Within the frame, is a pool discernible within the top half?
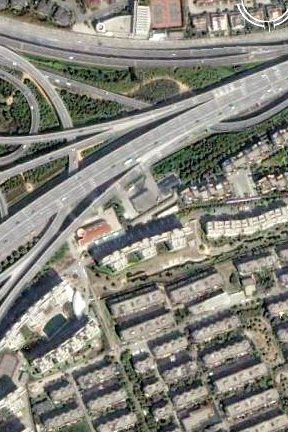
No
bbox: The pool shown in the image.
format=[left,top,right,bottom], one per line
[42,314,68,340]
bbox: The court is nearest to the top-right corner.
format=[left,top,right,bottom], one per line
[166,0,183,27]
